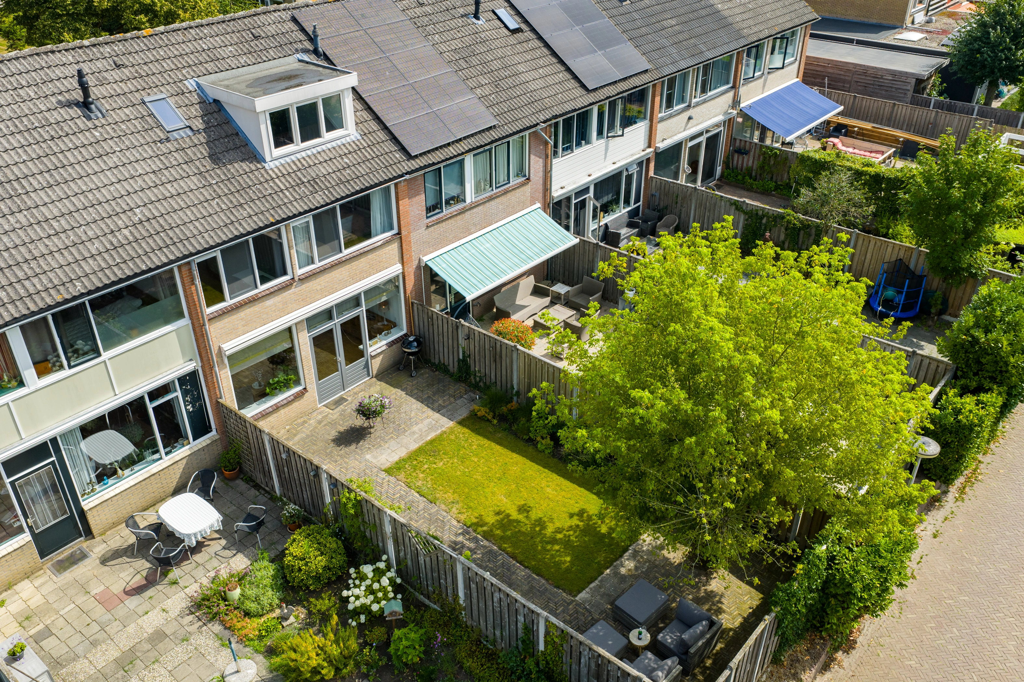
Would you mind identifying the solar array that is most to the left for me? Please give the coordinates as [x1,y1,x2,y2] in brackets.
[294,0,501,157]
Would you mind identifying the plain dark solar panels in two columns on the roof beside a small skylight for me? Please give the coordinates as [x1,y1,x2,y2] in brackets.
[510,0,653,91]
